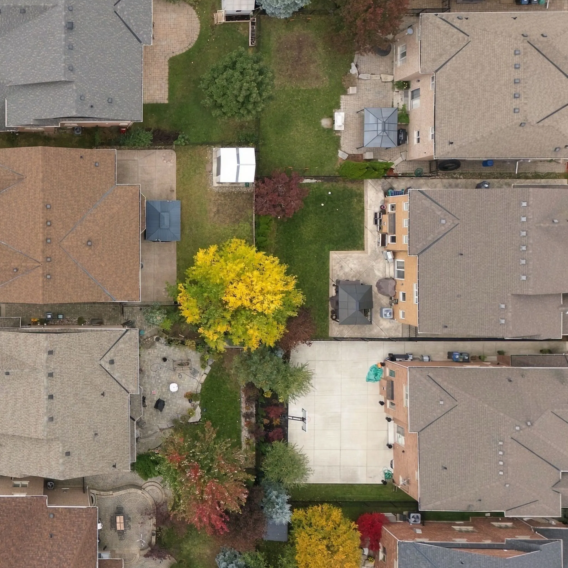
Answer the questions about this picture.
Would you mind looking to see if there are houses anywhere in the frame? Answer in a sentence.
Yes, there's a house down there.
